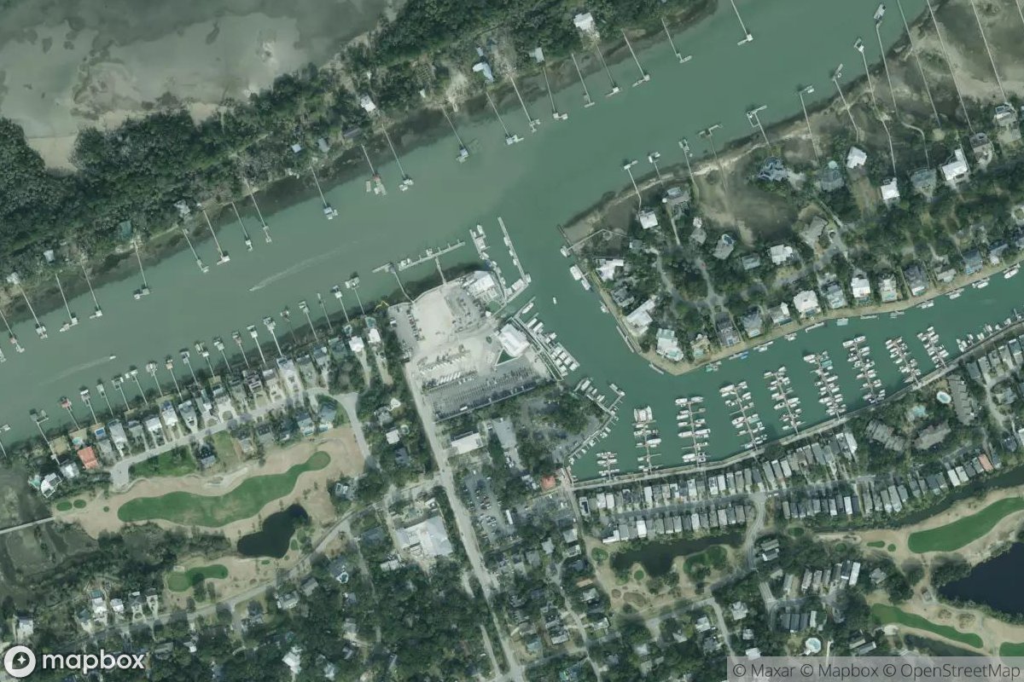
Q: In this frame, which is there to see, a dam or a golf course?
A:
golf course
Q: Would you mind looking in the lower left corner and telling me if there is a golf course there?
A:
Yes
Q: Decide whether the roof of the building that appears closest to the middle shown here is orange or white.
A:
white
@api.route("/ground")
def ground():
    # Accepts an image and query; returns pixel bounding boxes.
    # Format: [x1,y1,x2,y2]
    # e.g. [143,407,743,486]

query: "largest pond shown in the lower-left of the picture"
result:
[238,504,309,557]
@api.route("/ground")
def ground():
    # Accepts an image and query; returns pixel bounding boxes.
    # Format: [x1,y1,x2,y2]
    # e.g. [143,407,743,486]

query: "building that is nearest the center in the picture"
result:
[498,324,530,357]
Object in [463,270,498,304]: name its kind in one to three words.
building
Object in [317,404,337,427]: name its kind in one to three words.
house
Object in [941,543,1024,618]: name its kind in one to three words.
pond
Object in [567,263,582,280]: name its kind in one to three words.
boat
